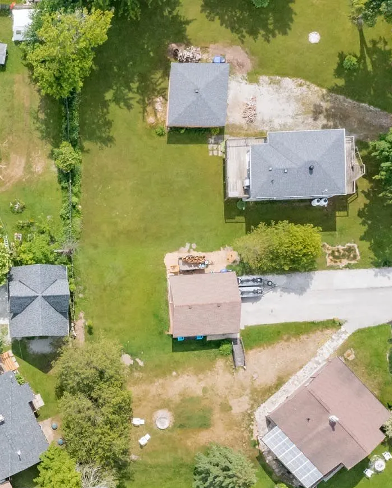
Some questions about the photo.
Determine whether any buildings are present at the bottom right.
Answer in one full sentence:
Yes, a building can be seen at the bottom right.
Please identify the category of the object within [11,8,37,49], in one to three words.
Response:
shed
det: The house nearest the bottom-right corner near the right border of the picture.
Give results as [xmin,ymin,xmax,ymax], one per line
[255,356,390,488]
